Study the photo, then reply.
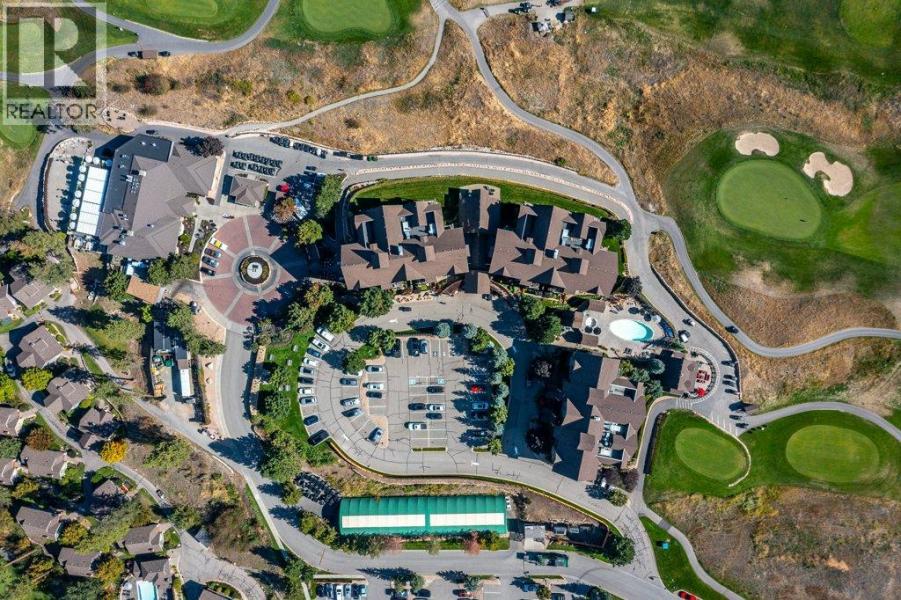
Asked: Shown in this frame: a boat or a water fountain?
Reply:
water fountain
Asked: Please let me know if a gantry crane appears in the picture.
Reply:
No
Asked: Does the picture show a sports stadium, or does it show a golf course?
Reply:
golf course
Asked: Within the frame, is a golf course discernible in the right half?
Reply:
Yes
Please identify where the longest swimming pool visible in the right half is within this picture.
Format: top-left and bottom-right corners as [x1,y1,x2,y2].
[609,318,655,341]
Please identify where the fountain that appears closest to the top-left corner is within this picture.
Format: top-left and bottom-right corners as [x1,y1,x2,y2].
[238,255,269,285]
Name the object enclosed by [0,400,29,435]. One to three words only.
house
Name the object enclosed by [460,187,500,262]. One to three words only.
building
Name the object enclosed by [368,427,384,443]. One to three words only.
car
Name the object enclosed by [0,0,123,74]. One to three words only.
golf course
